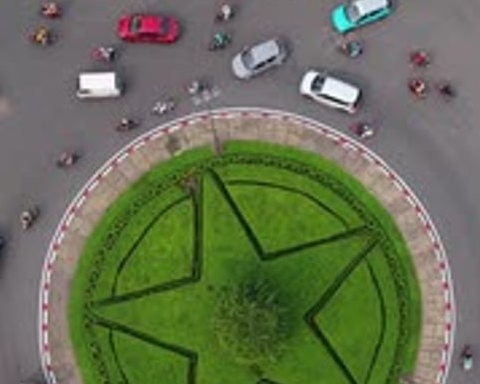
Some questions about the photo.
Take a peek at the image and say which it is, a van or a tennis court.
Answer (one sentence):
Looking from above, you can make out a van.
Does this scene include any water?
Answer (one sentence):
No, the scene doesn't show any water.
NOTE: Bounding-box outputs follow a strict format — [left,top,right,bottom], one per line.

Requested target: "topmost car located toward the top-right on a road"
[331,0,395,35]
